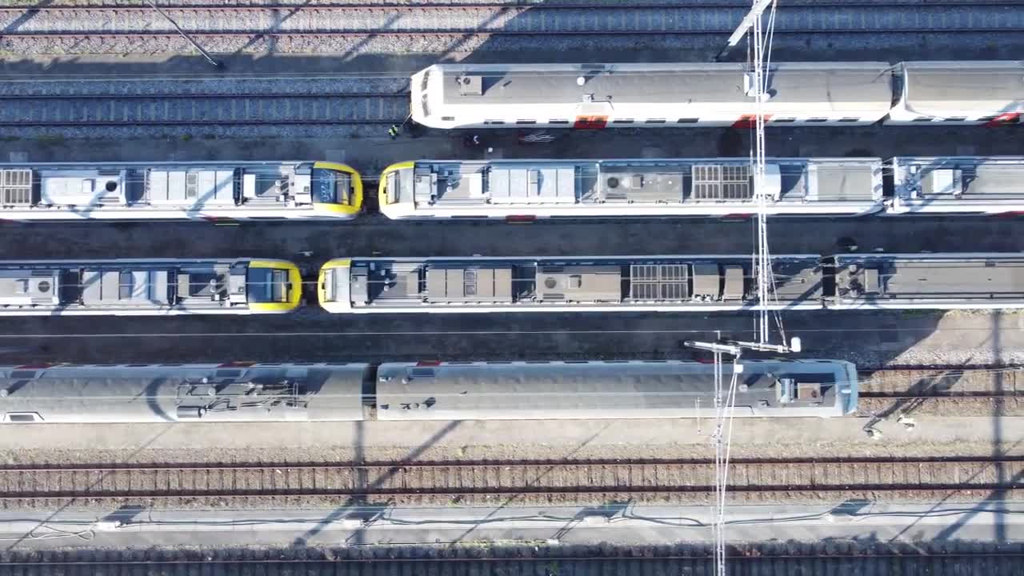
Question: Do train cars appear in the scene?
Yes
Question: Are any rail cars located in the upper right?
Yes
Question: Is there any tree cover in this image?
No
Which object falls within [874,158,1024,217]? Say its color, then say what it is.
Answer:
white rail car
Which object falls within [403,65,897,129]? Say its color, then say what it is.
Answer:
white rail car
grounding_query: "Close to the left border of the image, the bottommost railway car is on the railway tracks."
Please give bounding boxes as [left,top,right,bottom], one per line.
[0,363,376,423]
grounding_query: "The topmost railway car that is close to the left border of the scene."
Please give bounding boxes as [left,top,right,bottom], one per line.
[0,162,365,222]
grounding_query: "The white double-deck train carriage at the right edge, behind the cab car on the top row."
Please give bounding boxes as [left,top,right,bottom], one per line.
[875,63,1024,129]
